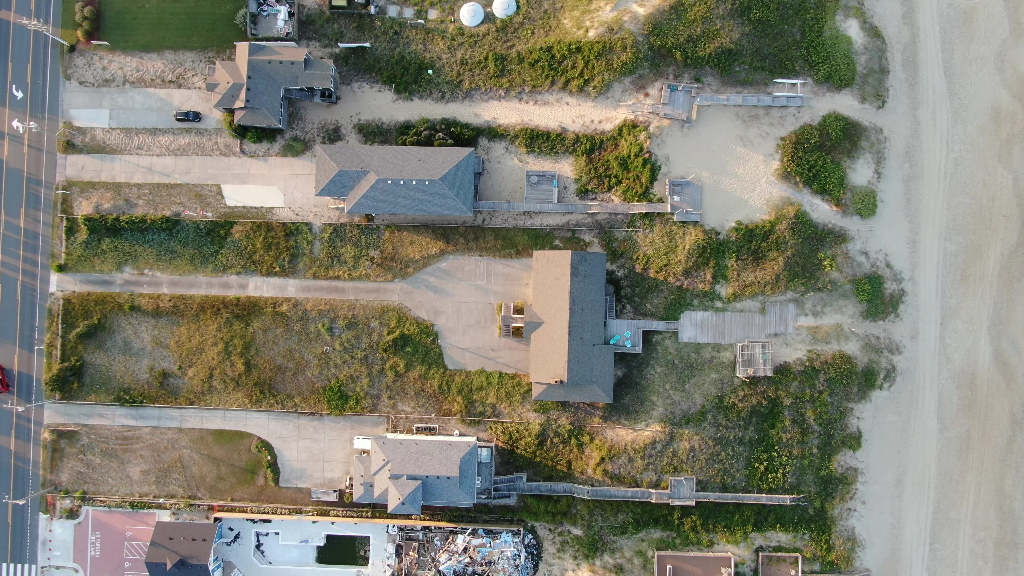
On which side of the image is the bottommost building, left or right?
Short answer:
left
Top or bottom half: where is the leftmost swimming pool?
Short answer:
bottom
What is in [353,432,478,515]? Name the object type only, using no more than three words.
house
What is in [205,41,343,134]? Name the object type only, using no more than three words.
house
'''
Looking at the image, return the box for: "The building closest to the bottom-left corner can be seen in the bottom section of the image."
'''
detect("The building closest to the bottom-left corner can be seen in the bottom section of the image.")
[144,520,231,576]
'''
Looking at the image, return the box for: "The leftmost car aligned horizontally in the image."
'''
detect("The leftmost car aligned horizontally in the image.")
[172,108,200,122]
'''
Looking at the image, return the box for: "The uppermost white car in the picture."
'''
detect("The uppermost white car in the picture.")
[347,437,371,452]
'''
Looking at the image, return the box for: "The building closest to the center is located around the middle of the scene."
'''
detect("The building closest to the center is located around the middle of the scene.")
[523,250,615,404]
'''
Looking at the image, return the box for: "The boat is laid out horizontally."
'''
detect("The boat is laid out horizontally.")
[773,79,808,96]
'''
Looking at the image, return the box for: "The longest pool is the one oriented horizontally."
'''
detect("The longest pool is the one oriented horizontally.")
[252,529,372,571]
